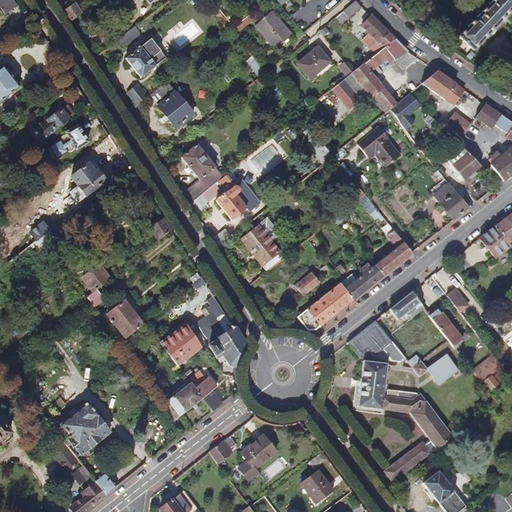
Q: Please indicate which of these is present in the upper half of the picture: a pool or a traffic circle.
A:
pool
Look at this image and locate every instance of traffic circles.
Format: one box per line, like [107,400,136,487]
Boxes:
[247,334,321,411]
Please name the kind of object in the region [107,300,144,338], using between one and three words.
house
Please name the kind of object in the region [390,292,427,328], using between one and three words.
building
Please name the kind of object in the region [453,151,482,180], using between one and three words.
house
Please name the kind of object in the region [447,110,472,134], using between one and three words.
shed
